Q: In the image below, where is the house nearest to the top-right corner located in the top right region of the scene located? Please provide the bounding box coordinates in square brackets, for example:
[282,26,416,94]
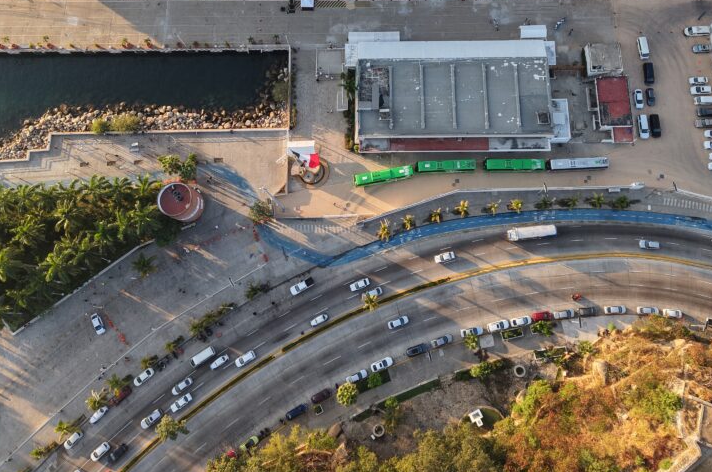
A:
[582,42,624,80]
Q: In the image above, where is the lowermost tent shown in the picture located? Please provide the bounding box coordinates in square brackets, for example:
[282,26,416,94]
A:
[288,141,316,157]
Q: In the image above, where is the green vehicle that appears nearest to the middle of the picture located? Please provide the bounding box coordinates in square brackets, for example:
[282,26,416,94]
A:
[352,162,415,188]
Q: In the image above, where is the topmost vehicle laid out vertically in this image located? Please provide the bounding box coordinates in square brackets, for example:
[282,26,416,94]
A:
[638,34,650,60]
